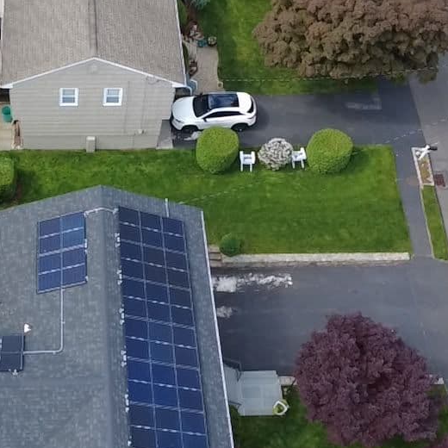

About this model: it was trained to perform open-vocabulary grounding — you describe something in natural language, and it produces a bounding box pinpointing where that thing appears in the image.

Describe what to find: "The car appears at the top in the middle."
[172,93,260,136]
